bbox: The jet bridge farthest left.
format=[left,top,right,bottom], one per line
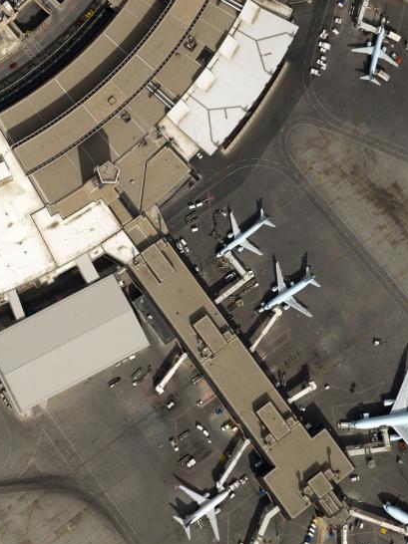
[151,353,187,395]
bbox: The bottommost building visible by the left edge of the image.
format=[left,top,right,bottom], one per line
[0,269,149,413]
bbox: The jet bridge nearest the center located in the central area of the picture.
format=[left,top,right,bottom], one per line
[215,246,251,304]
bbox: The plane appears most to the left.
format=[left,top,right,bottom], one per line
[176,486,232,541]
